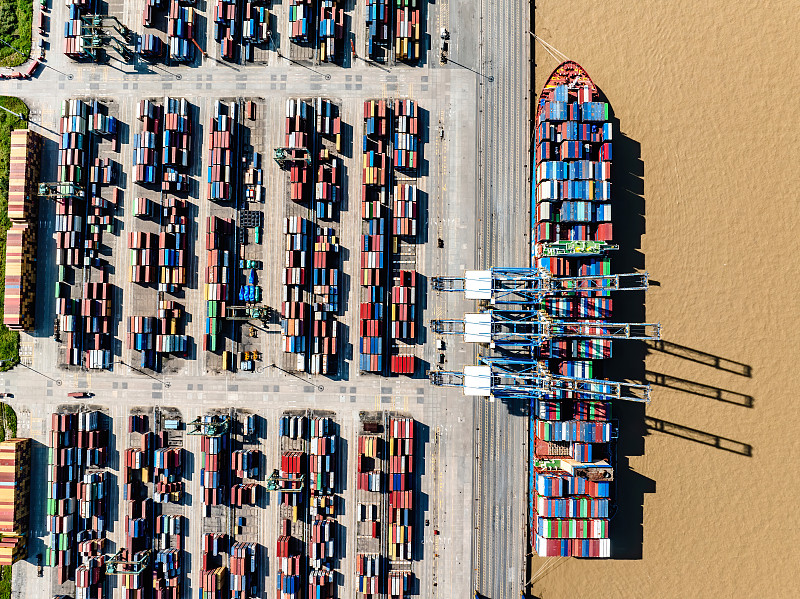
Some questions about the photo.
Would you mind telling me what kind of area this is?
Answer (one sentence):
This looks like a port.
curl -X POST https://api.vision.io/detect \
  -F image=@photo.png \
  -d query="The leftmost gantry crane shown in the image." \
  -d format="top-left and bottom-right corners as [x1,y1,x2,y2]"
[37,183,89,205]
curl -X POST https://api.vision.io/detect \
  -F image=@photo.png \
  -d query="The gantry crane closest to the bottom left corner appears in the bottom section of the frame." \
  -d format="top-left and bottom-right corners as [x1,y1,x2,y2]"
[102,545,152,575]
